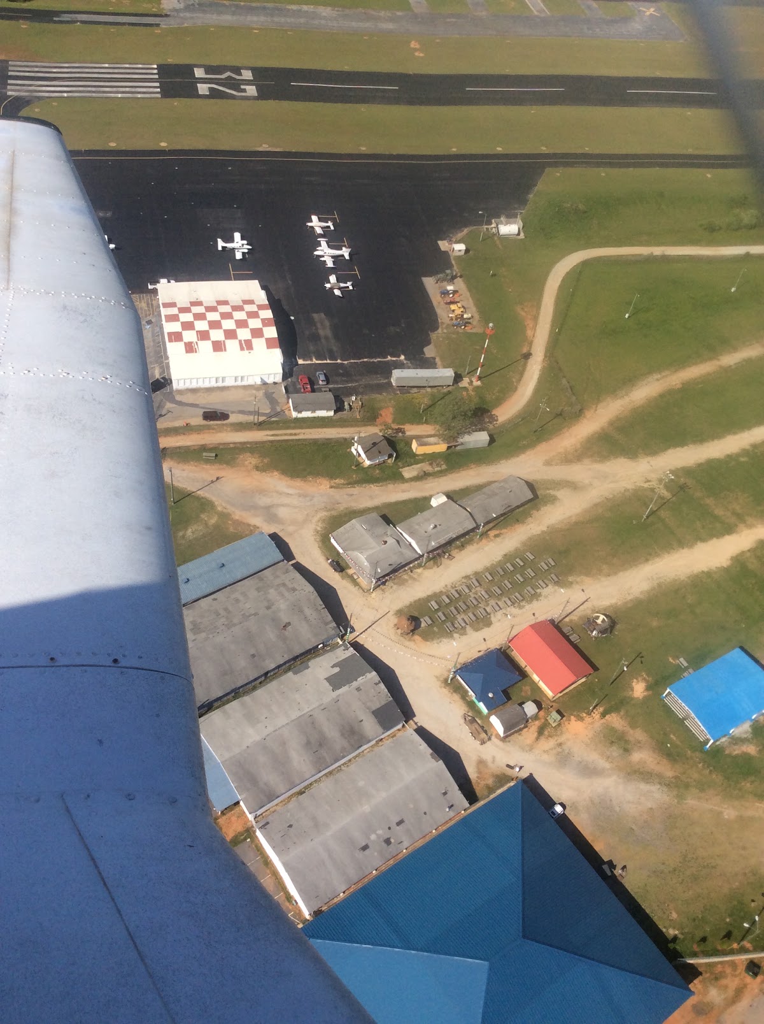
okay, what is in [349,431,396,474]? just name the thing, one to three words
building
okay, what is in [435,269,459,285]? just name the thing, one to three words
vehicle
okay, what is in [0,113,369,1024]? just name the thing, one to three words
airplane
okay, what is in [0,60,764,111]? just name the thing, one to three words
runway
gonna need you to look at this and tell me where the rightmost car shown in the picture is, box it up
[546,801,567,819]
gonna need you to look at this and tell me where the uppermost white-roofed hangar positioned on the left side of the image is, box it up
[162,278,285,388]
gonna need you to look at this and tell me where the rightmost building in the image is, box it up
[656,647,764,754]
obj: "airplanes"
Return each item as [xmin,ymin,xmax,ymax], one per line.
[314,240,352,267]
[0,113,369,1024]
[215,233,252,259]
[324,274,353,297]
[306,216,335,235]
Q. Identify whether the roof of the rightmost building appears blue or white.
blue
